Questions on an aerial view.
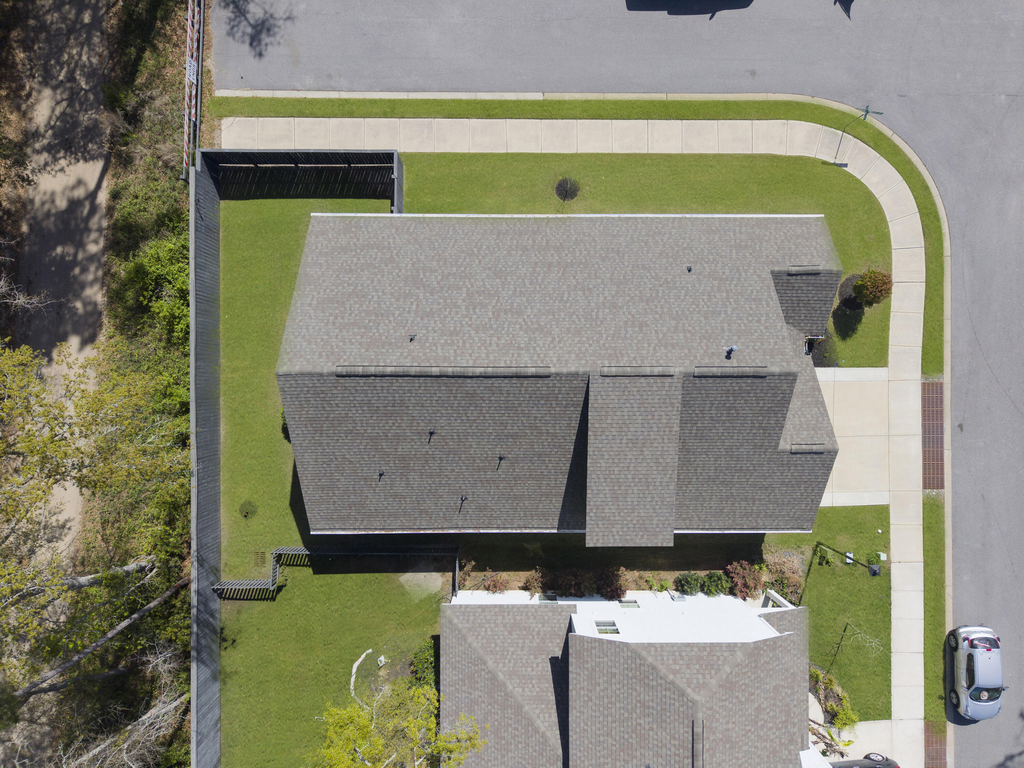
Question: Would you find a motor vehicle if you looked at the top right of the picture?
No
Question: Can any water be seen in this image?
No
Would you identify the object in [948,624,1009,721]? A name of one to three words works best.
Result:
car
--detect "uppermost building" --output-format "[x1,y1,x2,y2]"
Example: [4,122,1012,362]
[276,211,843,547]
